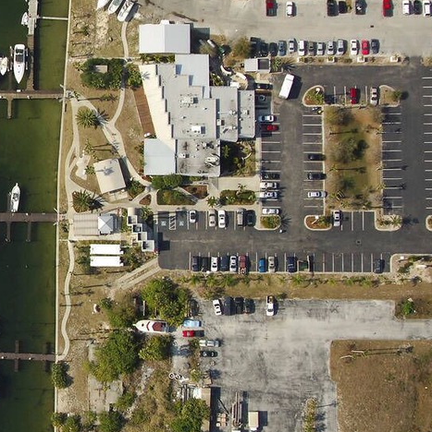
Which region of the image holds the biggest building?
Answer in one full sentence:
You can find the biggest building in the top area of the picture.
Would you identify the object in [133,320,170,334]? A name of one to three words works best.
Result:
boat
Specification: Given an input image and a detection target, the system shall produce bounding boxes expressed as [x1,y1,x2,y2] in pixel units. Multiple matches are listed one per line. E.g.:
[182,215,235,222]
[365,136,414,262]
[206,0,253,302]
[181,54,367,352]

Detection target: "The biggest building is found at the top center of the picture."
[132,54,255,178]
